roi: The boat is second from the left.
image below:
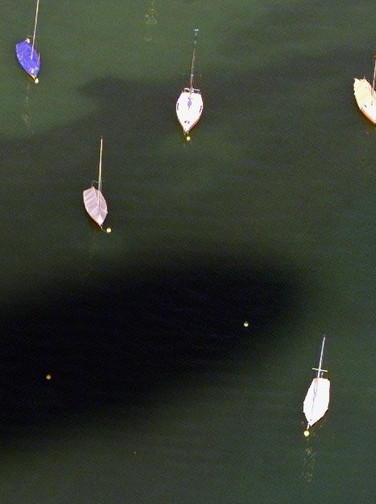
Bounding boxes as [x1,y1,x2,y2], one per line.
[83,136,108,229]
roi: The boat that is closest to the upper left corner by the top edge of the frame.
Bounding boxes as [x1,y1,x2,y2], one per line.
[16,0,41,81]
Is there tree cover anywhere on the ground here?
No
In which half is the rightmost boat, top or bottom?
top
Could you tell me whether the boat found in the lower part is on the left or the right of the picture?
right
